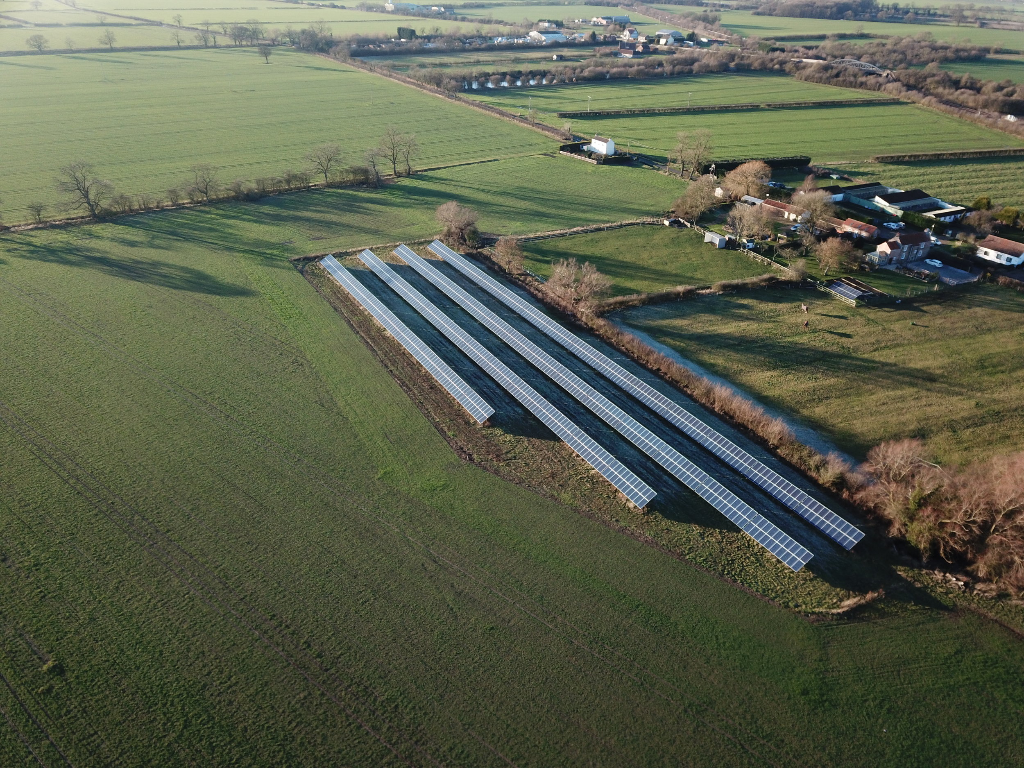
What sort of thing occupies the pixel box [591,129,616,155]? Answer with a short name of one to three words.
house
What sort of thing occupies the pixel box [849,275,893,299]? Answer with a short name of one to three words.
shed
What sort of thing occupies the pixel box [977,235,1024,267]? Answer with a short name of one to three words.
house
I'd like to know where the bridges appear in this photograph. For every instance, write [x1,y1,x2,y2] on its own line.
[817,56,883,78]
